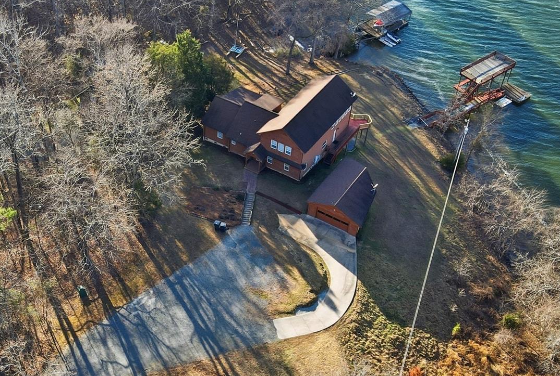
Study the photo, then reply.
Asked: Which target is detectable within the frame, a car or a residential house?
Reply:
residential house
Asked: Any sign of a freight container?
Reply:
No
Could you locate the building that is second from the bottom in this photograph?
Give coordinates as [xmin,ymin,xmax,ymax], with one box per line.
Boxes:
[200,74,372,180]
